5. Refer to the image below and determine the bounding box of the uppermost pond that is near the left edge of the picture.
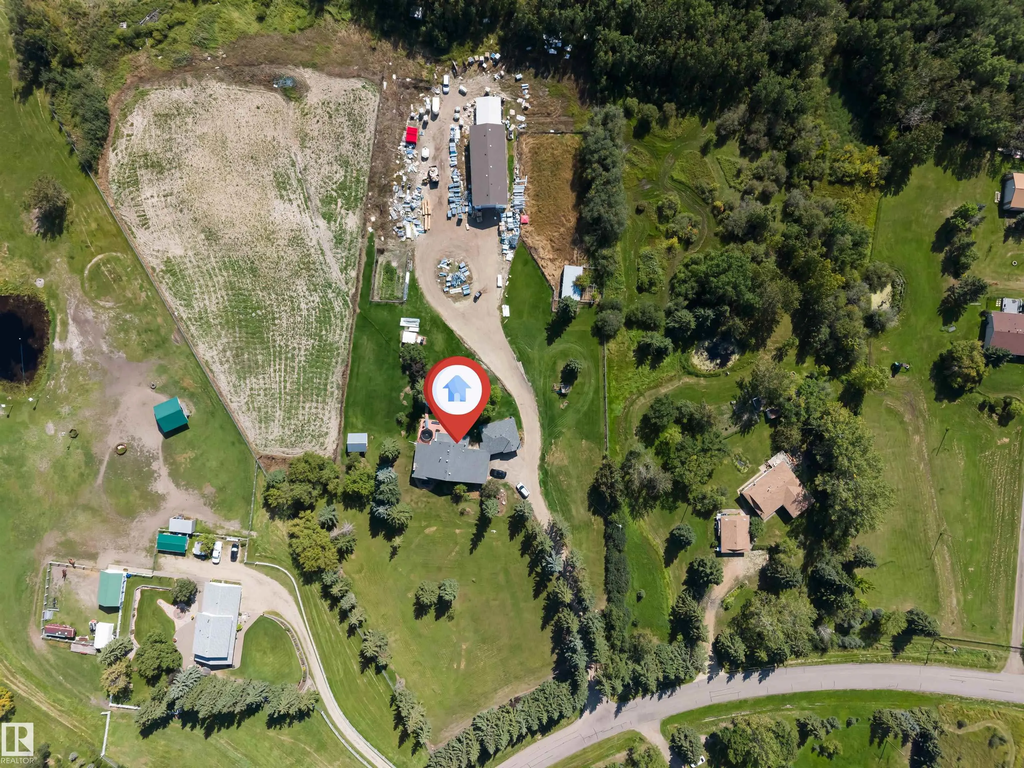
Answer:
[0,295,51,384]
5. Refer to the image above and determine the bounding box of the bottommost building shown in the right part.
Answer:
[719,515,750,553]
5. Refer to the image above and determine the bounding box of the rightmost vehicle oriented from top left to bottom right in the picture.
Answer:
[517,482,530,498]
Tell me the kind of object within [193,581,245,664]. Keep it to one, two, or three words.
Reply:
house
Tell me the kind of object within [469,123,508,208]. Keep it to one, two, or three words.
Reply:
shed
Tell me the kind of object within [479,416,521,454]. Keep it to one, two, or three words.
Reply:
building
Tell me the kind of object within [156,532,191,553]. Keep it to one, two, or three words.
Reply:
shed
